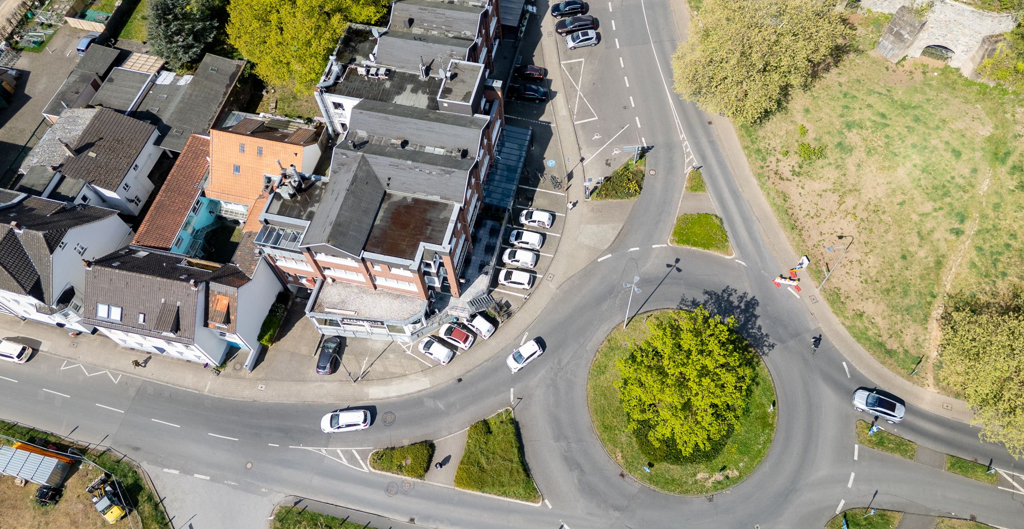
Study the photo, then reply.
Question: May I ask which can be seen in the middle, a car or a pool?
car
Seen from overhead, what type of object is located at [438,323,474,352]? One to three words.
car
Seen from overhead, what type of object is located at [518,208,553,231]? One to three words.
car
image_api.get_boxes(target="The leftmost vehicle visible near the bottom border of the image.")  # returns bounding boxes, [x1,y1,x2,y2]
[82,466,126,521]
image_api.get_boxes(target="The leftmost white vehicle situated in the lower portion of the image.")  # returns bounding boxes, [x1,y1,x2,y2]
[0,335,31,362]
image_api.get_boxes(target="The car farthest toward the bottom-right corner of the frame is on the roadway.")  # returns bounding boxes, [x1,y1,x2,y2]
[850,389,908,424]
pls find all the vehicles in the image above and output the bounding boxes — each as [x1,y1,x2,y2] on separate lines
[508,228,544,252]
[460,314,496,343]
[557,12,595,35]
[495,267,537,293]
[501,247,537,271]
[504,336,546,372]
[511,64,549,84]
[565,28,600,50]
[322,409,372,437]
[550,0,587,19]
[518,208,553,231]
[850,389,908,424]
[417,338,454,367]
[0,335,31,362]
[316,335,343,377]
[438,323,474,352]
[509,83,548,103]
[82,466,126,521]
[72,30,104,57]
